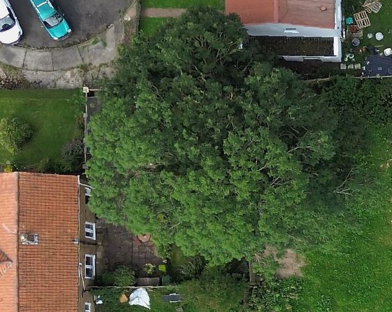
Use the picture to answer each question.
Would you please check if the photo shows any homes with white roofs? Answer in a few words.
No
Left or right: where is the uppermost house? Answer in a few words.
right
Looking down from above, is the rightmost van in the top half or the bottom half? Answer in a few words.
top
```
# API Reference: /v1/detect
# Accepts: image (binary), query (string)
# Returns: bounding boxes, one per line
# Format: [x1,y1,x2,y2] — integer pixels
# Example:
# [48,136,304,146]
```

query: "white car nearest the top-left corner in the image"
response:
[0,0,24,45]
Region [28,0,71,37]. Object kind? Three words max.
van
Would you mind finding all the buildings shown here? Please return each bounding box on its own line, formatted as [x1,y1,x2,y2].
[224,0,348,64]
[0,168,97,288]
